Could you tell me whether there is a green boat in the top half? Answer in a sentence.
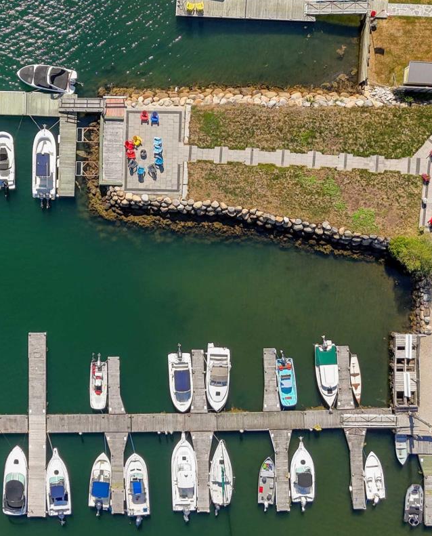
No, I can find no green boat in the top half.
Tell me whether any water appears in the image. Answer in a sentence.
Yes, some water is visible.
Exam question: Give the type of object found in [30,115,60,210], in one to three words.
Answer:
boat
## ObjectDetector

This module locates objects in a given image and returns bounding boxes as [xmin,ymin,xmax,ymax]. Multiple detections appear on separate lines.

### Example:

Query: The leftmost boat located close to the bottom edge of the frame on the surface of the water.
[2,434,30,516]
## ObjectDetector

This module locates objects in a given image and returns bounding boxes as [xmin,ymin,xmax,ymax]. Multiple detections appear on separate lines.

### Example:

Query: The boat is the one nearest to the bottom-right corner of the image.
[406,484,425,528]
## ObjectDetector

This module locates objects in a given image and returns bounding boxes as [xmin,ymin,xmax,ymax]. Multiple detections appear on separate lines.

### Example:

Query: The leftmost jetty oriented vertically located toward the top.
[57,117,77,197]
